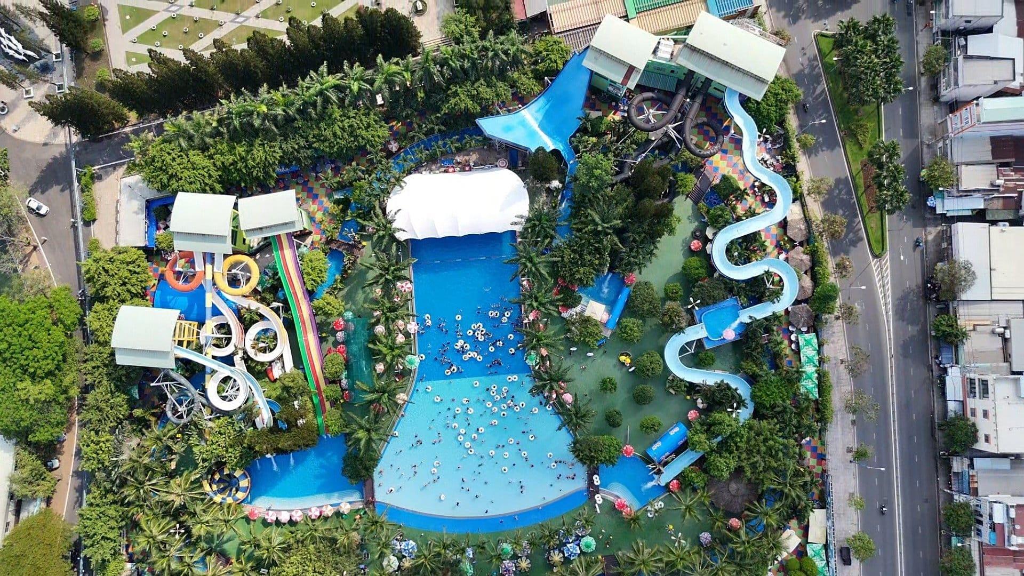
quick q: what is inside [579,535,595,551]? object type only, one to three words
umbrella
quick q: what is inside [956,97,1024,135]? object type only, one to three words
house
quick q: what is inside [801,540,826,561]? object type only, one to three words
tent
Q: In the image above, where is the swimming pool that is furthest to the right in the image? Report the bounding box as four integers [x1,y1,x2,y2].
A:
[692,296,750,350]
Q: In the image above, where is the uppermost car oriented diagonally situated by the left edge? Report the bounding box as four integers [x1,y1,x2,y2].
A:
[24,197,46,214]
